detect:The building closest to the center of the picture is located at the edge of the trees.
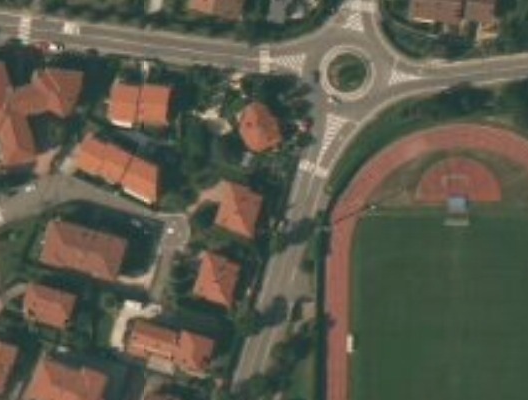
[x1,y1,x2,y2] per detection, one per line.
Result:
[215,180,263,240]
